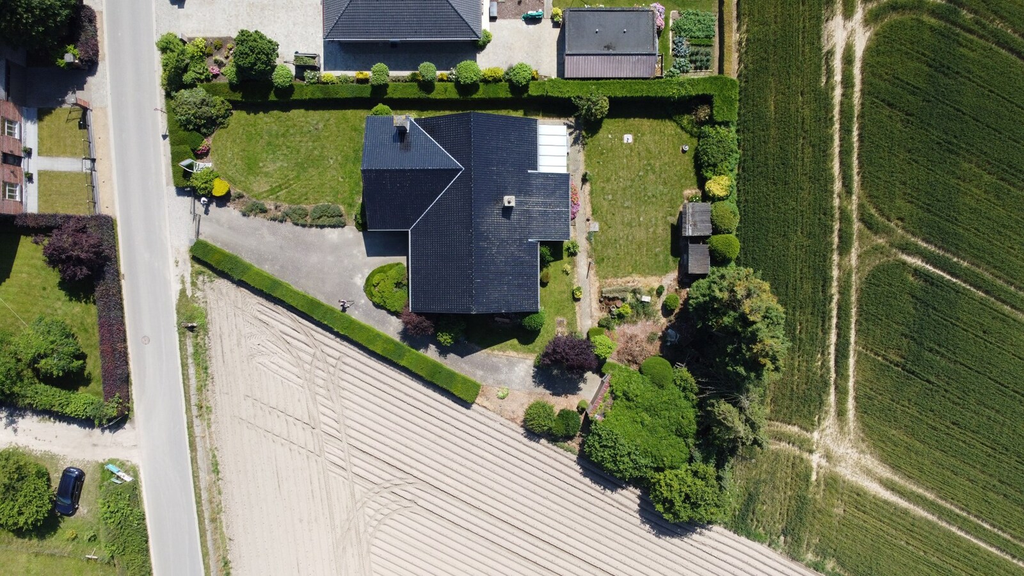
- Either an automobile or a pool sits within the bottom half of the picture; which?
automobile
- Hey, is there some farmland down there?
Yes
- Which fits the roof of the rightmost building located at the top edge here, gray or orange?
gray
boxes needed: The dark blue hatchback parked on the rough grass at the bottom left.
[52,465,88,519]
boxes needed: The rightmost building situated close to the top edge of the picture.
[564,8,657,80]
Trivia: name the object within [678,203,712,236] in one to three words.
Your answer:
shed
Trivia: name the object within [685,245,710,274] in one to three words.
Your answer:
shed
